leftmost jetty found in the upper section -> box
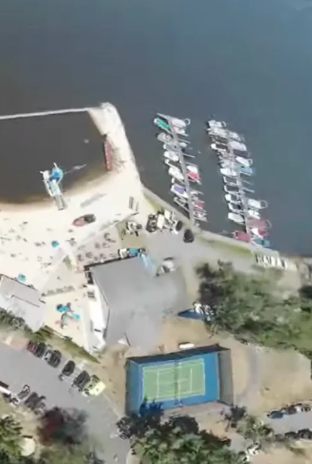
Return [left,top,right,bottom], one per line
[156,112,207,228]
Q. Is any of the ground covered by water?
Yes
